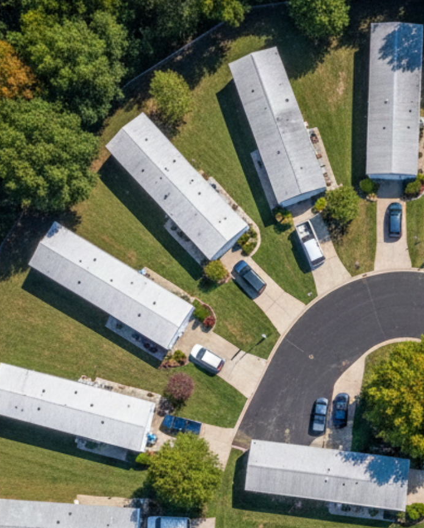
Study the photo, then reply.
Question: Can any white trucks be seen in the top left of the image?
No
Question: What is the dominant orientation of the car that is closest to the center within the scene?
at an angle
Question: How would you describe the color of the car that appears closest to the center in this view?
blue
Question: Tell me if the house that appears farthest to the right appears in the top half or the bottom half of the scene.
top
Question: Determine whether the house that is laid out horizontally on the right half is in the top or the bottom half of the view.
bottom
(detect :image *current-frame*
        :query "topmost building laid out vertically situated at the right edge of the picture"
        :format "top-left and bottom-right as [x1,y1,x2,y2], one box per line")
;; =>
[365,21,423,182]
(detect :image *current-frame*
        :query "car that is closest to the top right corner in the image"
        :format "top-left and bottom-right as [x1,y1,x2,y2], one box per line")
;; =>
[388,204,403,240]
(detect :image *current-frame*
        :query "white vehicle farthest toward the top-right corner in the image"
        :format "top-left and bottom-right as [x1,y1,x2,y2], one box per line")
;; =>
[296,221,324,268]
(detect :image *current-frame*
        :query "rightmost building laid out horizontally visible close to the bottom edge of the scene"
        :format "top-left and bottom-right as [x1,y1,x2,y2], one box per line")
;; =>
[245,439,411,512]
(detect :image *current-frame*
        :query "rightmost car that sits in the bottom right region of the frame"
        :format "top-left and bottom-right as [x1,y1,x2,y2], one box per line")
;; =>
[334,394,349,428]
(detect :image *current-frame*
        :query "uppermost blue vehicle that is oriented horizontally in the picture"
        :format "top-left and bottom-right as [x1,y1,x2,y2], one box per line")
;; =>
[163,415,203,436]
